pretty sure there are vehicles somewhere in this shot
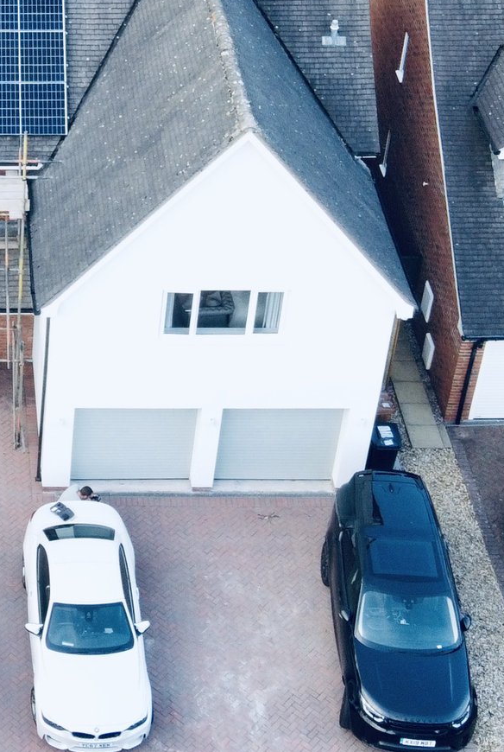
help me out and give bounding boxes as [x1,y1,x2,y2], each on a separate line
[20,498,155,752]
[316,469,484,749]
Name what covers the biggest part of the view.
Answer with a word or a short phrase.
buildings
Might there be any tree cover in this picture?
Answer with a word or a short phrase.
No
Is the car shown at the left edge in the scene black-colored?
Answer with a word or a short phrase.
No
